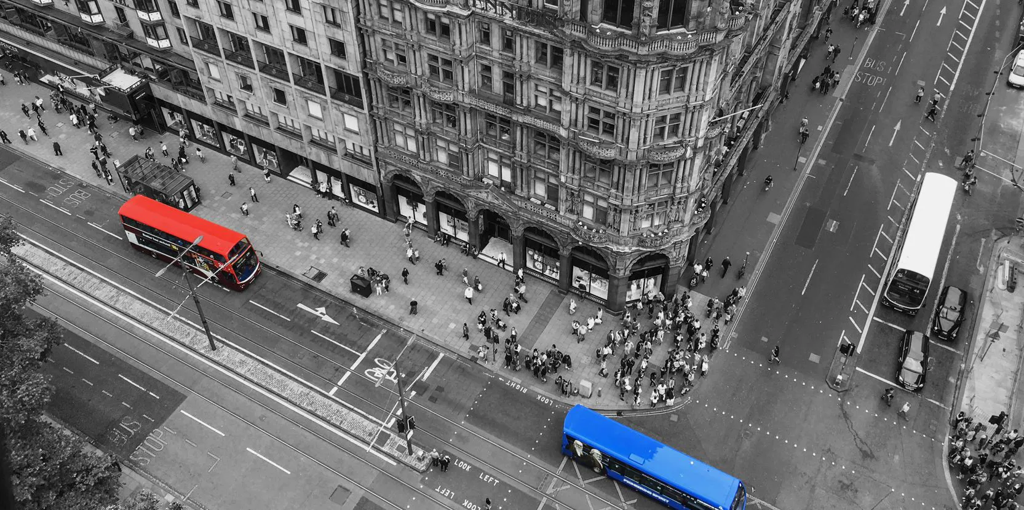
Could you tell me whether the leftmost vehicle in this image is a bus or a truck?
bus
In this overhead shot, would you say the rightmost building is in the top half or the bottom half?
top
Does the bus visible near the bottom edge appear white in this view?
No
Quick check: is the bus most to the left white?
No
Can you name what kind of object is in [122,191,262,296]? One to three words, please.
bus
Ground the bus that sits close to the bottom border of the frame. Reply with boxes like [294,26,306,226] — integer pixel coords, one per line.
[559,404,755,510]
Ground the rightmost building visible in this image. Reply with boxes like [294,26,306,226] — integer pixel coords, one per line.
[346,0,839,309]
